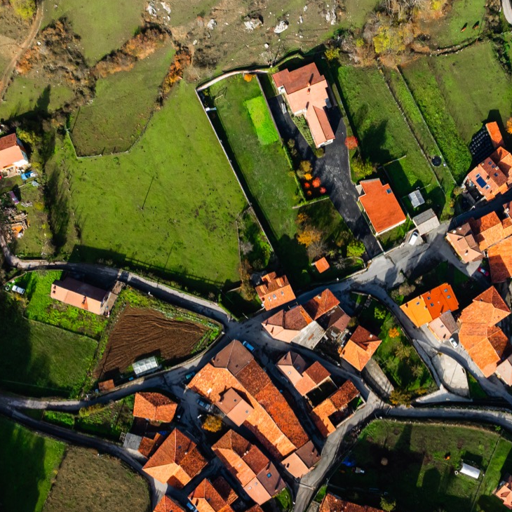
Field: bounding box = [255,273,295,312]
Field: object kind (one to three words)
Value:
house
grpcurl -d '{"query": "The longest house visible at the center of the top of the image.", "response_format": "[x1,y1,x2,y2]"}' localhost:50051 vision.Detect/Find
[272,62,334,152]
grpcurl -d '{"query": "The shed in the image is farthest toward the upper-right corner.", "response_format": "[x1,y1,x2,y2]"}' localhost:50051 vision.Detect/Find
[483,122,504,152]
